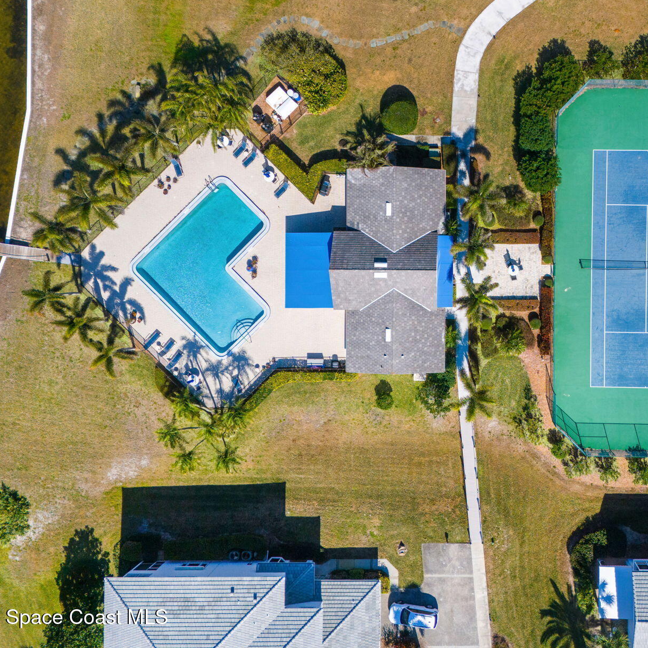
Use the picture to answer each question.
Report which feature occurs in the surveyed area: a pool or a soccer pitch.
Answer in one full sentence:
This aerial view contains a pool.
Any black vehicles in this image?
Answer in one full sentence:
No, this view has no black vehicle in it.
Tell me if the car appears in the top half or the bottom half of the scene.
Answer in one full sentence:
The bottom half of the photo is where the car is.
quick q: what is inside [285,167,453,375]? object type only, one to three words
building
